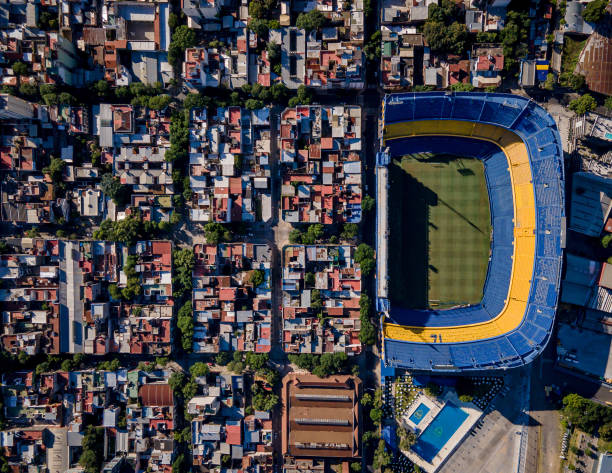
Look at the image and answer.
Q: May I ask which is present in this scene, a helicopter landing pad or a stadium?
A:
stadium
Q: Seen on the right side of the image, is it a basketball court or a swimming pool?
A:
swimming pool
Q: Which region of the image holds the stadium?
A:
right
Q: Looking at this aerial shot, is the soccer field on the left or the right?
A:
right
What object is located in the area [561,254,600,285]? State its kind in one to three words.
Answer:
building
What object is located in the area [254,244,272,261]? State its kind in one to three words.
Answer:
building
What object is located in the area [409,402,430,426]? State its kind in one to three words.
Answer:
swimming pool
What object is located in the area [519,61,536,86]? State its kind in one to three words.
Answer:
house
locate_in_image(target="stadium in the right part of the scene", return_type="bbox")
[371,89,572,378]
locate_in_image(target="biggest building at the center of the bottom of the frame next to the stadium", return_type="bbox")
[283,372,362,458]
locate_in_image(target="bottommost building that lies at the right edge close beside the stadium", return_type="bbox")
[552,324,612,381]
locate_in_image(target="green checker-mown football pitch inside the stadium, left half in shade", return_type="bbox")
[390,155,491,309]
